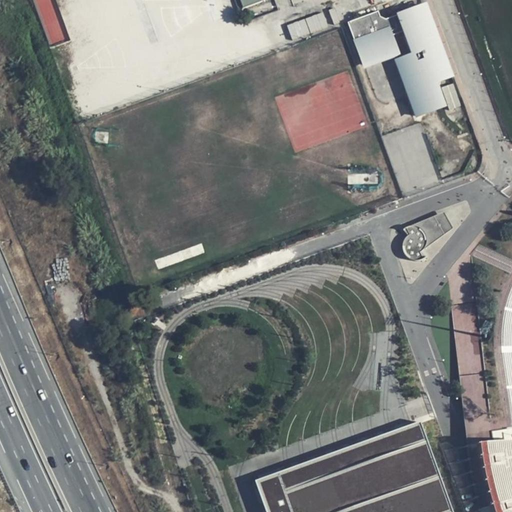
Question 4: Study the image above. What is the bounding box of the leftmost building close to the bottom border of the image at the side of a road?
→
[256,424,452,512]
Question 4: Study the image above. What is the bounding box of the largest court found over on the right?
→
[275,70,368,152]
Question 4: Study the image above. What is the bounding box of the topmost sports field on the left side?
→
[54,0,340,120]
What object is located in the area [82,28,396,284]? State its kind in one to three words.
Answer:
sports field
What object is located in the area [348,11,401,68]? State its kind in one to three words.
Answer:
building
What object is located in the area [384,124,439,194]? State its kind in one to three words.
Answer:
sports court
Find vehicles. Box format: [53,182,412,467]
[464,504,475,511]
[48,456,56,468]
[38,389,46,400]
[20,458,29,470]
[19,364,27,375]
[65,452,73,464]
[7,406,15,417]
[460,494,470,500]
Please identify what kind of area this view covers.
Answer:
sports ground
